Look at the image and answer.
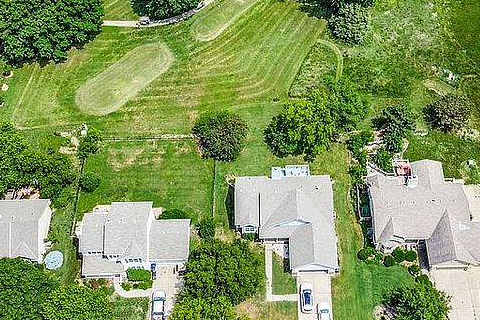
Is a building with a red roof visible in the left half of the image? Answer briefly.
No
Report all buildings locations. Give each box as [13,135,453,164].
[234,162,339,275]
[77,200,190,279]
[365,156,480,270]
[0,199,53,270]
